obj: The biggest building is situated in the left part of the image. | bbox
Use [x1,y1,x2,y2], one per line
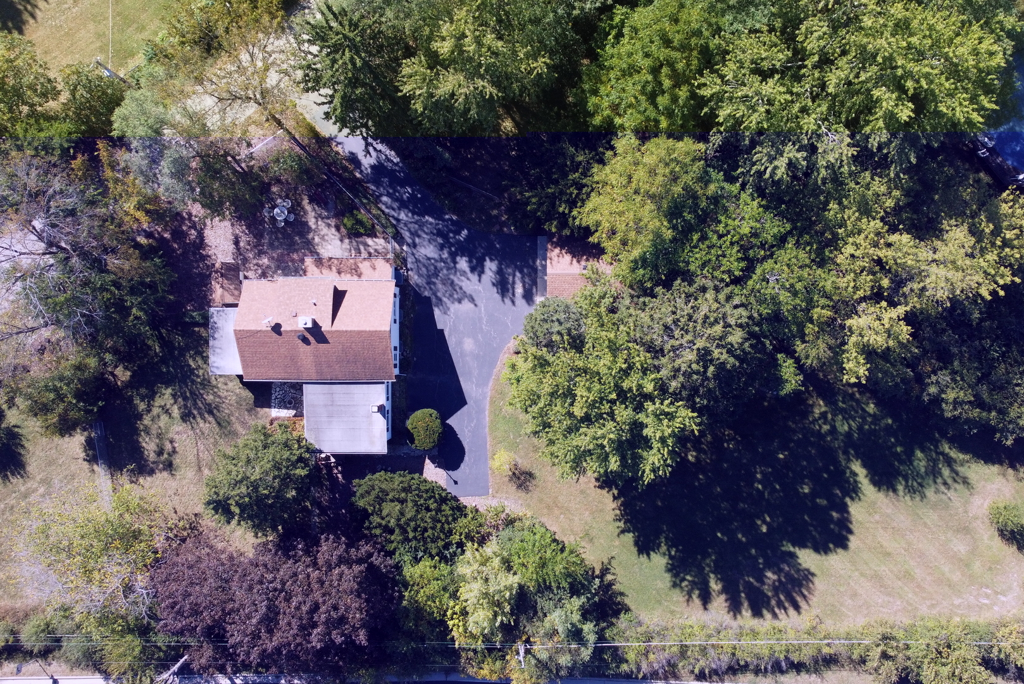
[208,256,400,456]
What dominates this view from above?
trees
